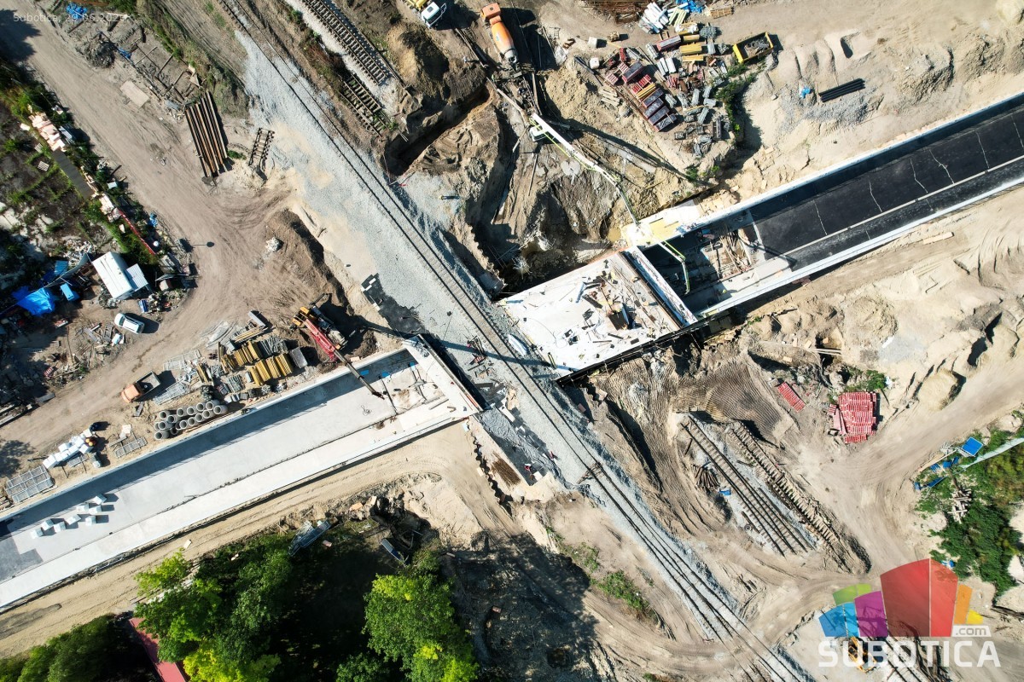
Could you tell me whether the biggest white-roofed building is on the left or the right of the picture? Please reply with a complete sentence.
The biggest white-roofed building is on the left side of the image.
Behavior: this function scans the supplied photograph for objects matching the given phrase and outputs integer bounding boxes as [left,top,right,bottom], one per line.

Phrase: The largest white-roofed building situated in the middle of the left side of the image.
[92,251,142,300]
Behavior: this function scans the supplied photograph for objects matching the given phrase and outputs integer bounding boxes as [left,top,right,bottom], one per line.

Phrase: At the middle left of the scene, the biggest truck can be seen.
[116,367,169,408]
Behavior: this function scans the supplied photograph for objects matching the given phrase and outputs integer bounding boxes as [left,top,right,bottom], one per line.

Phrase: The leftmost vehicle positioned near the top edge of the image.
[389,0,449,38]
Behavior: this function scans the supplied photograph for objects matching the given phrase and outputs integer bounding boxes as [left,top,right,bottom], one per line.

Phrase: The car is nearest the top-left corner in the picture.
[114,311,150,337]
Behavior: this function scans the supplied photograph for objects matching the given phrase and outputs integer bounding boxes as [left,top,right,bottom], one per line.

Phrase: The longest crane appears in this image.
[283,284,391,404]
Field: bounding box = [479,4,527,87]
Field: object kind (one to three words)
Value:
truck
